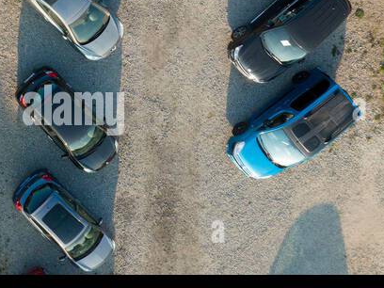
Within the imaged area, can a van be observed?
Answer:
Yes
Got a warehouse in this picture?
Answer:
No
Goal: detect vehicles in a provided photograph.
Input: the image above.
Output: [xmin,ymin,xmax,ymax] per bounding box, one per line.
[10,161,115,269]
[226,69,364,178]
[227,0,356,80]
[18,66,117,172]
[28,0,122,59]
